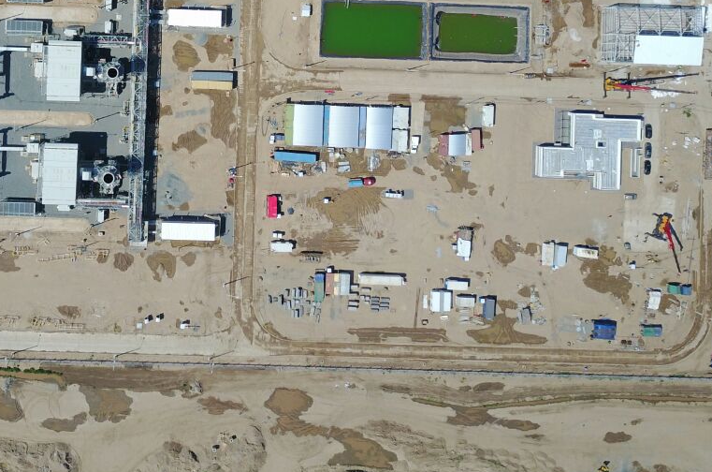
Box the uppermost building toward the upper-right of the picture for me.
[587,4,705,67]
